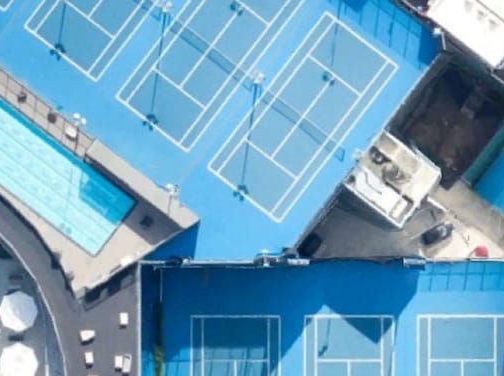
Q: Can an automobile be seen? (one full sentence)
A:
Yes, the picture does show an automobile.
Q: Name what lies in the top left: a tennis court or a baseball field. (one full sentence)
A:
It is a tennis court that can be seen in the top left.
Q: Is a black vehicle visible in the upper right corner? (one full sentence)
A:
No, no black vehicle is visible in the upper right corner.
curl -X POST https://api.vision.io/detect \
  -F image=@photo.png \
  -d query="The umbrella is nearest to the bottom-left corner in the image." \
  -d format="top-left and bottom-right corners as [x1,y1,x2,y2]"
[0,344,38,376]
